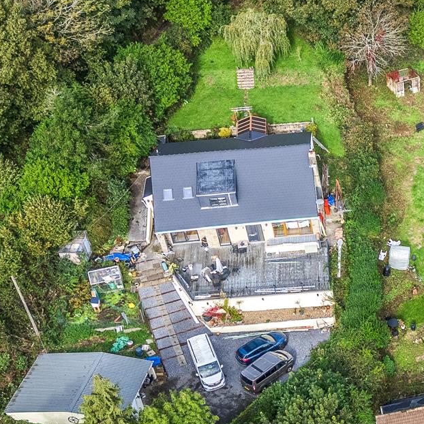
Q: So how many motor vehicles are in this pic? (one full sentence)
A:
I count 3 motor vehicles.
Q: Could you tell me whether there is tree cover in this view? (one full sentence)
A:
Yes, the picture does contain tree cover.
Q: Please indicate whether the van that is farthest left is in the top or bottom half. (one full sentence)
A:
It is in the bottom half that the van that is farthest left appears.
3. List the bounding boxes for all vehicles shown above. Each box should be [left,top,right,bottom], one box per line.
[234,329,287,364]
[238,349,296,391]
[185,334,222,385]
